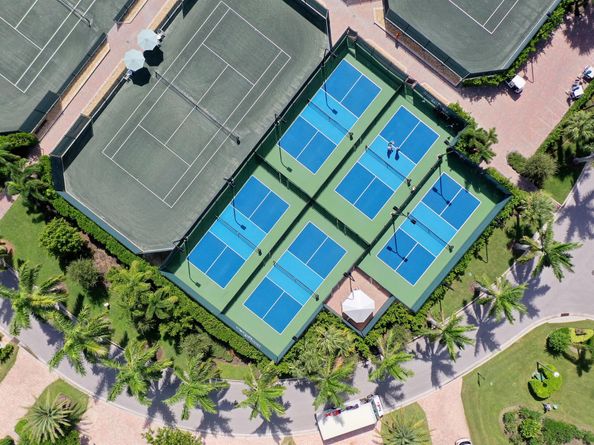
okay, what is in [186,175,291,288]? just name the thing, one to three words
sports court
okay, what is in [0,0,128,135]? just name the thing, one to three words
tennis court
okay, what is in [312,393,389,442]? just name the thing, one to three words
truck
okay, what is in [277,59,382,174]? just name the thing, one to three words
sports court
